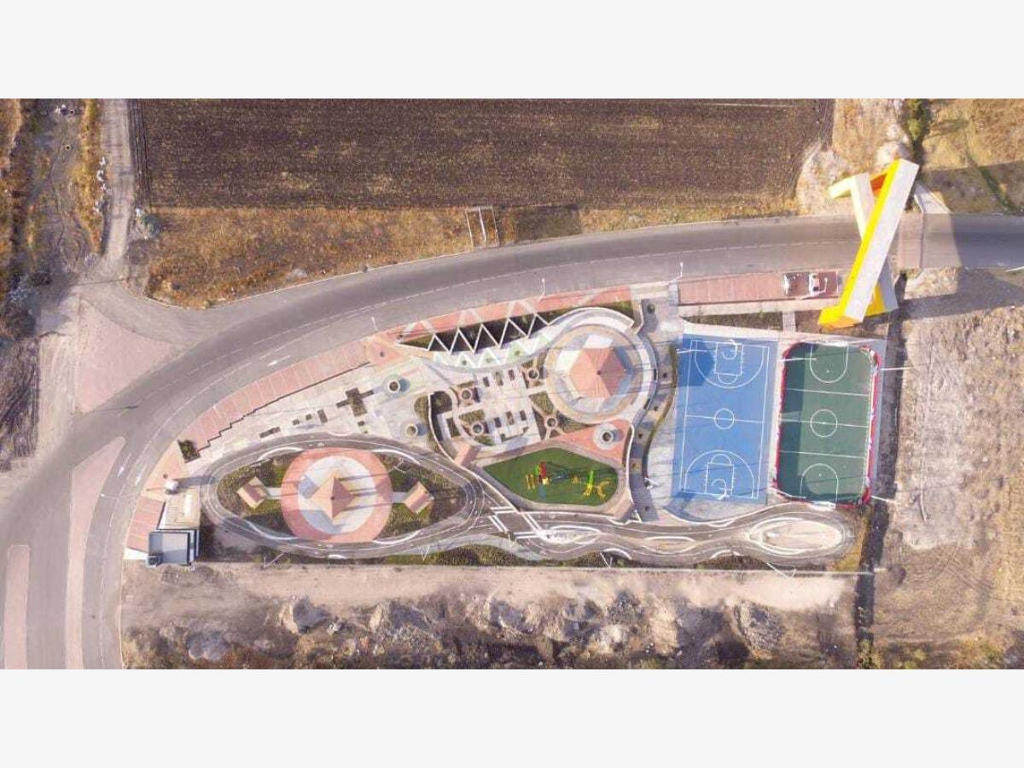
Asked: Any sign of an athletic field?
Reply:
Yes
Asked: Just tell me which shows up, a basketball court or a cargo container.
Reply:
basketball court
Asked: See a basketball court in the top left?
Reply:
No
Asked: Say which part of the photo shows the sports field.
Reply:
right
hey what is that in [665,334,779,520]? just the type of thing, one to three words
basketball court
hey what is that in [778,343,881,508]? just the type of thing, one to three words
sports field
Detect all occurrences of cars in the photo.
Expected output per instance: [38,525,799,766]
[808,273,820,296]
